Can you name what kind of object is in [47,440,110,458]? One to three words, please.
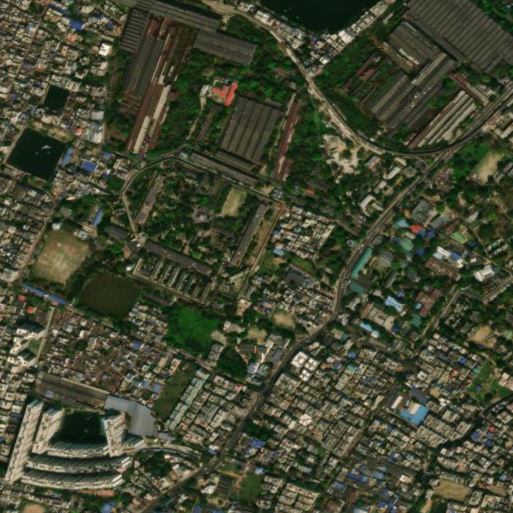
building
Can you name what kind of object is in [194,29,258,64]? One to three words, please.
shed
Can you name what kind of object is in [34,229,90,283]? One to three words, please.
sports field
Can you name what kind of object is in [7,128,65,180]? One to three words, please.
pond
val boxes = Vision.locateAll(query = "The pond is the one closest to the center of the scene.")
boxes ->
[80,272,139,317]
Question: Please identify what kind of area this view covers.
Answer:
residential area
